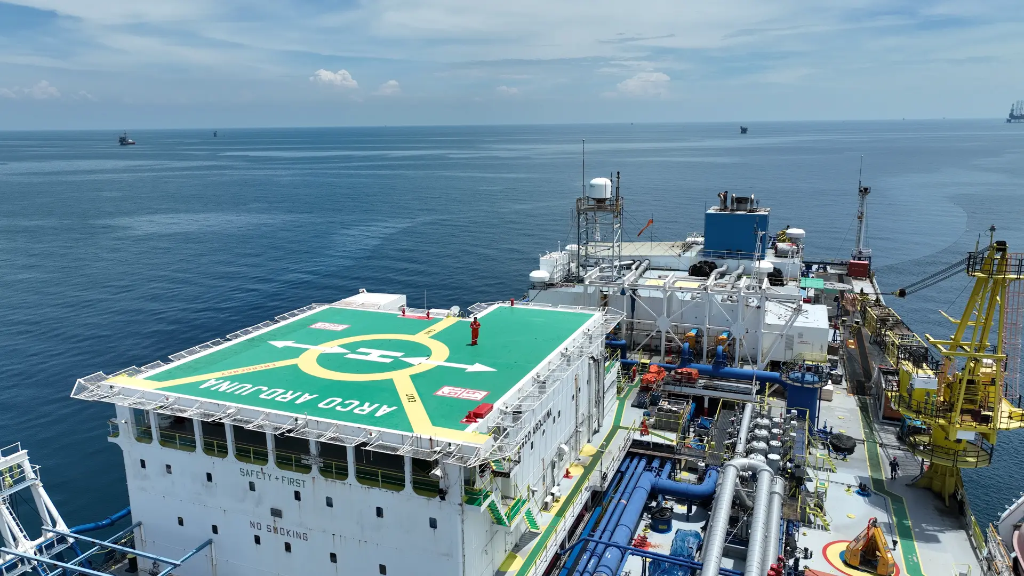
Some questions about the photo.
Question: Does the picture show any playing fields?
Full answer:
No, the scene contains no playing field.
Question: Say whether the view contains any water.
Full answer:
Yes, there is water in the image.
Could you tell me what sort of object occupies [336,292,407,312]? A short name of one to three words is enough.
house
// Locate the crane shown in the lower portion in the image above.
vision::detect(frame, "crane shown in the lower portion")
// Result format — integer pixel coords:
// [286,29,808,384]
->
[891,222,1024,507]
